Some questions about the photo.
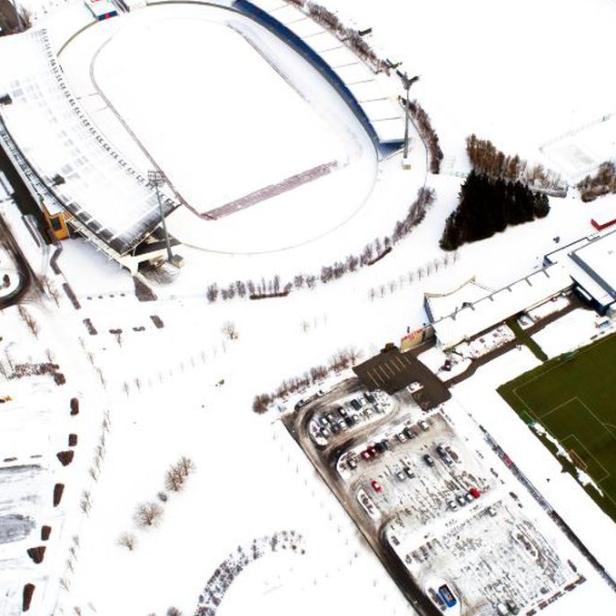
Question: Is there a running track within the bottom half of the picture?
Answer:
No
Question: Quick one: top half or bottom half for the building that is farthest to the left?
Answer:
top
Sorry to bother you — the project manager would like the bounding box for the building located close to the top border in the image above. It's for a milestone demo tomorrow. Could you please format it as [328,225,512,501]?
[85,0,119,21]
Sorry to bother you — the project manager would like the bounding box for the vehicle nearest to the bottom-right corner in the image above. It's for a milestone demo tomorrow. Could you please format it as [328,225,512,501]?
[536,583,551,598]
